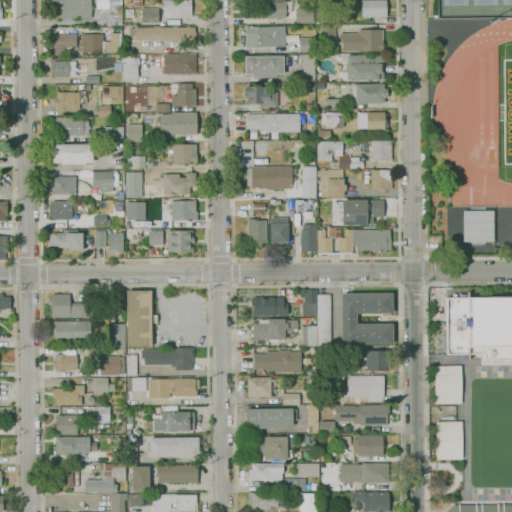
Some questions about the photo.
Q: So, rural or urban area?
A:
urban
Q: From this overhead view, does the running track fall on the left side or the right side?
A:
right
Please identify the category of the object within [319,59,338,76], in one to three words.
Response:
swimming pool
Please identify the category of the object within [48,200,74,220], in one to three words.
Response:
house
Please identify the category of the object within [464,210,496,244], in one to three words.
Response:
building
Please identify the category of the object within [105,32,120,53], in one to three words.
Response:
shed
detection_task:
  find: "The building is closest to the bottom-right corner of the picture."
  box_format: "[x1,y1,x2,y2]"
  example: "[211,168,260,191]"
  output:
[436,422,465,460]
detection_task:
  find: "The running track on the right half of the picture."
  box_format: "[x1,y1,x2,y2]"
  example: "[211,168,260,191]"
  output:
[434,20,512,206]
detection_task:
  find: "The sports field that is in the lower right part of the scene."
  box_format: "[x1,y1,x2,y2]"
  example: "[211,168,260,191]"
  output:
[472,378,512,487]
